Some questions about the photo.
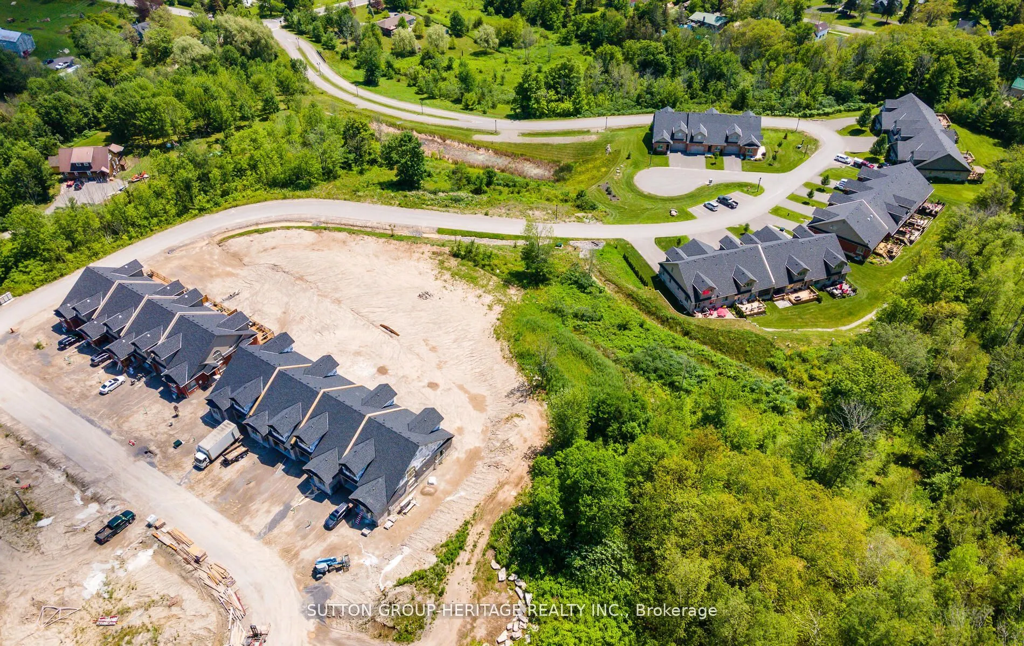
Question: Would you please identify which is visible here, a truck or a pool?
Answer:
truck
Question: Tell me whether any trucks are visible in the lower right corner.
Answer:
No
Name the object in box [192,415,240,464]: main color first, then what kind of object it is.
white truck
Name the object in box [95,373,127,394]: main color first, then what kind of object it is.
white car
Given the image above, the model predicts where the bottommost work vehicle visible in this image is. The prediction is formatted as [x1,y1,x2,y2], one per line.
[241,620,271,646]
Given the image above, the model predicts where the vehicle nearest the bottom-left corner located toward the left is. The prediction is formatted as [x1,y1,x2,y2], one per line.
[91,508,138,545]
